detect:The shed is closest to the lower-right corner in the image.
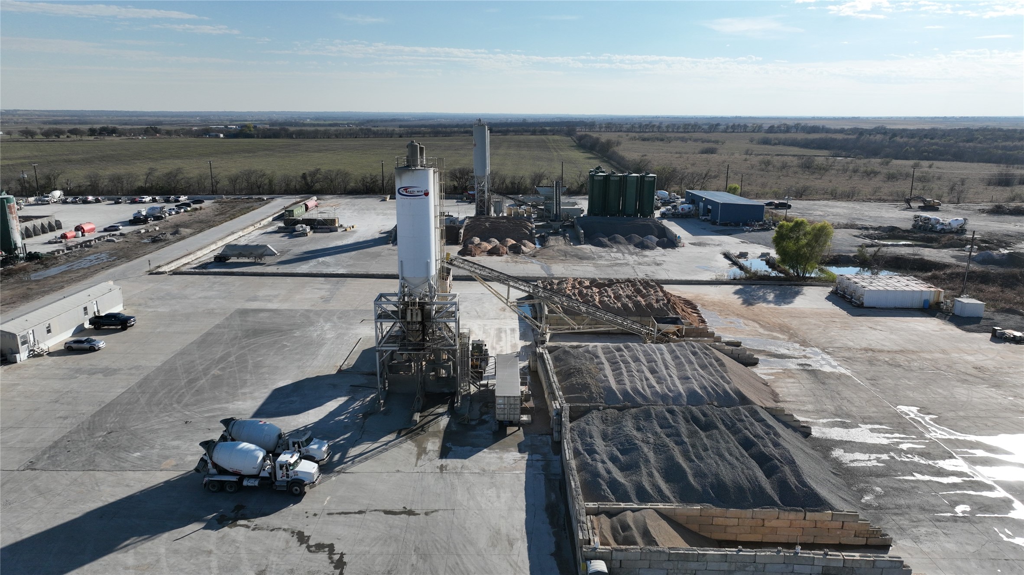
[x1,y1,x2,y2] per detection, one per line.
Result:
[947,292,994,317]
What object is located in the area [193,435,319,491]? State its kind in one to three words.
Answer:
truck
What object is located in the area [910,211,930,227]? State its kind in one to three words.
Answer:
vehicle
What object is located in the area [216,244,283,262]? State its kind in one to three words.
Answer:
trailer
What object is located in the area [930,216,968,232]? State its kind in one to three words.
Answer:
vehicle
